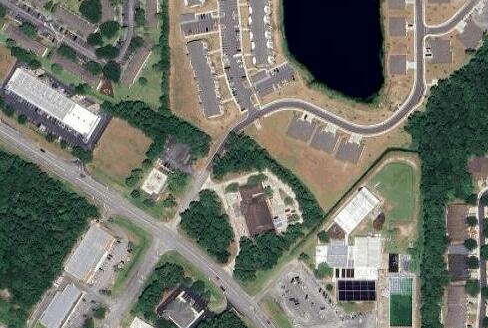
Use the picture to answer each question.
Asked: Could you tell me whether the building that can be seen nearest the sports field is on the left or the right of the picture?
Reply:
right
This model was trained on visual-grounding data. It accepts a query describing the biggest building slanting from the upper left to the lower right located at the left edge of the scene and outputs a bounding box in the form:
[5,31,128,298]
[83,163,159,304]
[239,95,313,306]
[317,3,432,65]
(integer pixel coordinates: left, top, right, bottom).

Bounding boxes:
[5,64,101,141]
